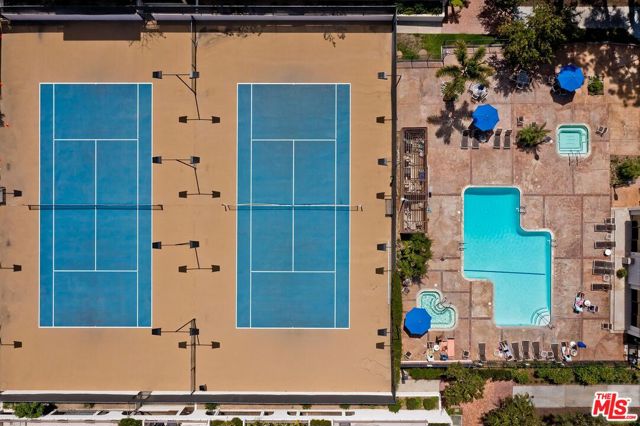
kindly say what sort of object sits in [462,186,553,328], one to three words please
swimming pool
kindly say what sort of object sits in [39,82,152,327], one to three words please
tennis court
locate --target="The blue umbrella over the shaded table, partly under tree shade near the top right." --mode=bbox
[555,66,583,93]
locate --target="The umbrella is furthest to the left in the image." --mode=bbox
[404,307,430,333]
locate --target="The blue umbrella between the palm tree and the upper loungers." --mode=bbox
[470,104,498,133]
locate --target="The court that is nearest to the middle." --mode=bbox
[237,82,350,327]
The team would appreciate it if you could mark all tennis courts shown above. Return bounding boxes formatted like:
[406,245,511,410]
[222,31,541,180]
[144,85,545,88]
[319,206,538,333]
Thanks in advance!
[237,82,350,327]
[39,82,152,327]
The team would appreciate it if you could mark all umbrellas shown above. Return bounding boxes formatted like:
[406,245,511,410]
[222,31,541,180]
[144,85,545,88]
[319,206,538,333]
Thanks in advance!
[470,104,498,133]
[404,307,430,333]
[555,66,583,93]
